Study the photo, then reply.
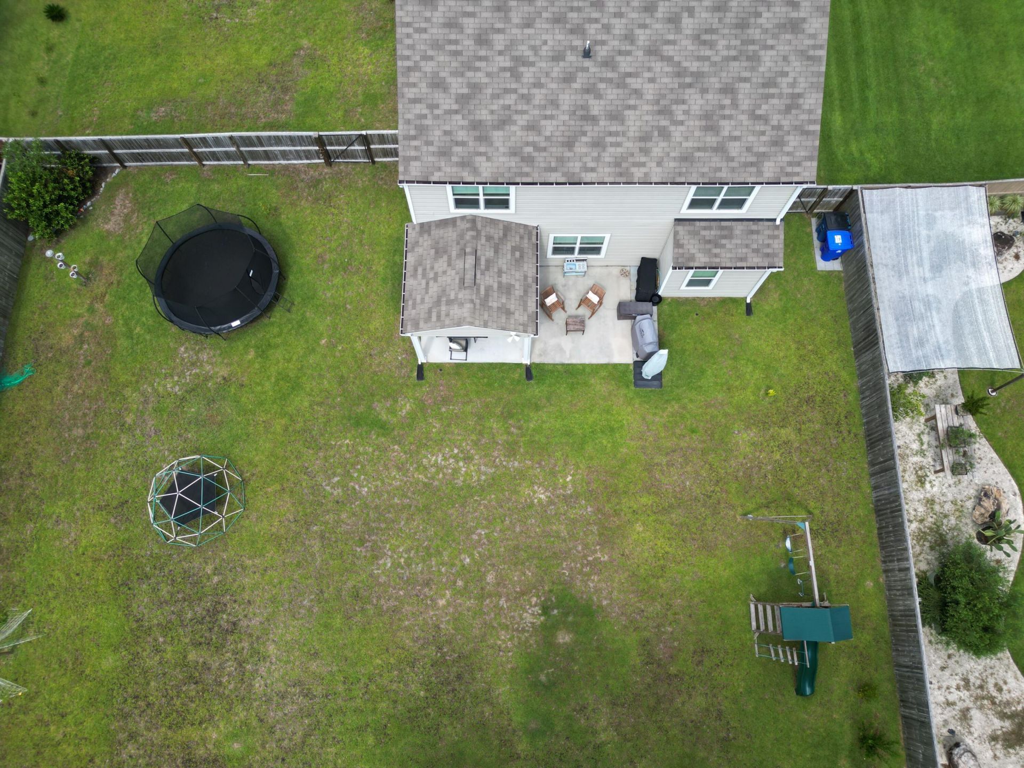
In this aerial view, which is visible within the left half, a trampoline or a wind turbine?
trampoline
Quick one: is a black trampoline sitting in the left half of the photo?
Yes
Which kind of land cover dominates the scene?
grass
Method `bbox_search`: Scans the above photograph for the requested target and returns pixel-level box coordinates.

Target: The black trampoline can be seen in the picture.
[134,201,292,345]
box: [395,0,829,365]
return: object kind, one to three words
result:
house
